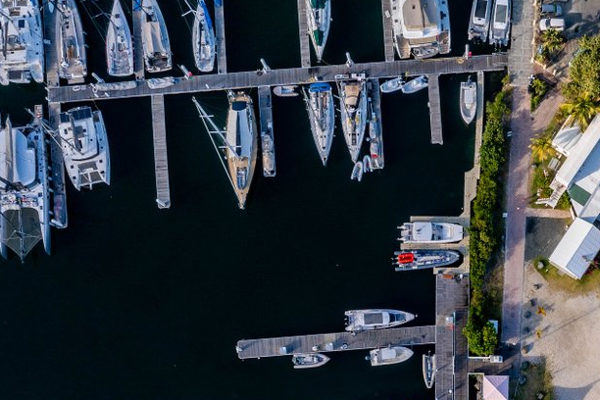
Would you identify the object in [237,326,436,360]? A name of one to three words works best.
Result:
pier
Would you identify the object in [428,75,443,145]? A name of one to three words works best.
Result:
pier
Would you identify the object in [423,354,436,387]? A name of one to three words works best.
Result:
boat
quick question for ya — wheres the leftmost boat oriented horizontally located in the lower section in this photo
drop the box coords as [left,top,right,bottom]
[292,353,329,369]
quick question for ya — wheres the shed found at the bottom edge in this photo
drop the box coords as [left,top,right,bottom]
[483,376,509,400]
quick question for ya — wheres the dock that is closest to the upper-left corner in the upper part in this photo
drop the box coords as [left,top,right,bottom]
[44,0,60,87]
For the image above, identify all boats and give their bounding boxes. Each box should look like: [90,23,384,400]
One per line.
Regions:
[370,143,379,168]
[18,101,111,192]
[349,162,362,183]
[301,0,330,64]
[30,0,89,86]
[124,0,170,76]
[394,251,459,271]
[264,148,276,171]
[149,78,176,87]
[276,86,300,95]
[83,0,131,78]
[390,0,453,62]
[362,156,371,175]
[292,353,329,369]
[331,77,368,163]
[467,0,487,46]
[297,79,337,167]
[0,106,52,257]
[423,354,436,387]
[490,0,510,51]
[403,77,428,94]
[341,308,415,331]
[459,78,476,125]
[397,222,463,243]
[369,113,379,140]
[177,0,215,75]
[0,0,46,89]
[364,347,413,367]
[380,78,403,93]
[187,78,255,209]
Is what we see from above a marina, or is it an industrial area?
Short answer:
marina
